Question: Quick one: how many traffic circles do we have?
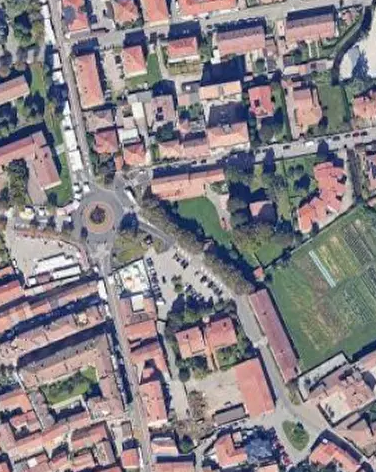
1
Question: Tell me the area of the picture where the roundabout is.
left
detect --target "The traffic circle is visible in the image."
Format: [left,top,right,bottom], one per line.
[72,189,126,243]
